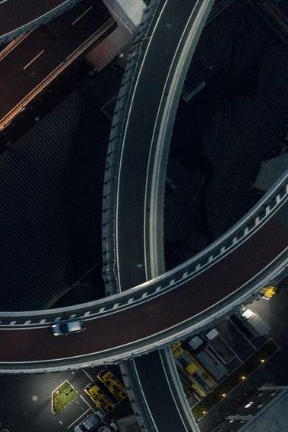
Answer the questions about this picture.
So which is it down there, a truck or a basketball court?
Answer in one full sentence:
Of the two, only a truck appears.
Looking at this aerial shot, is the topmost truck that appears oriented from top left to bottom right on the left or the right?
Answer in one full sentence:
It is on the right.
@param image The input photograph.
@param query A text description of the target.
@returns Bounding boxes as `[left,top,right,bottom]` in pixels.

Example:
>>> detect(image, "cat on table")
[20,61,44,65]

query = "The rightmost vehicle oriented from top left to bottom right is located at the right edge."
[243,308,280,342]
